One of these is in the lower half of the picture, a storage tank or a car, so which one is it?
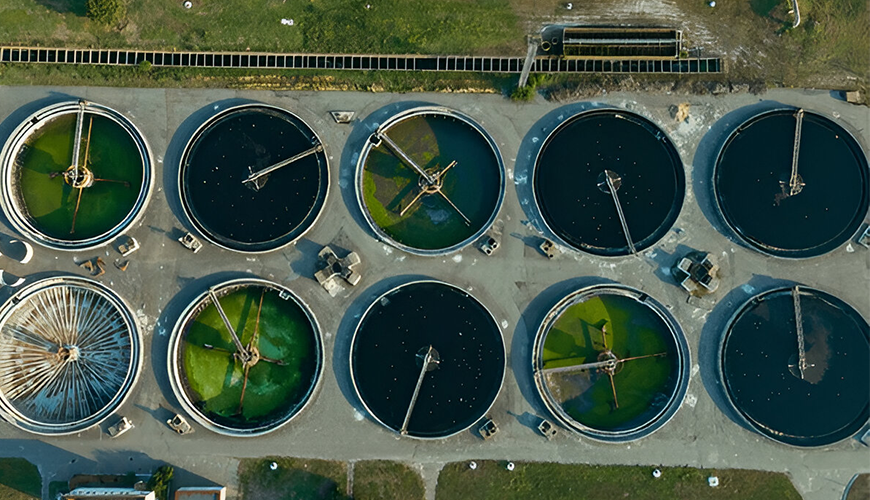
storage tank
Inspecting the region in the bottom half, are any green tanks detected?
Yes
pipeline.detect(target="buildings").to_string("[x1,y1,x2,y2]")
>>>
[175,486,227,500]
[51,485,163,500]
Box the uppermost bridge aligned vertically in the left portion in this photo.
[73,99,87,178]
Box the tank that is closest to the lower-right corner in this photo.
[716,287,870,445]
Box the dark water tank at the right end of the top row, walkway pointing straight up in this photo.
[714,107,868,260]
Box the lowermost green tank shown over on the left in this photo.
[167,278,326,436]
